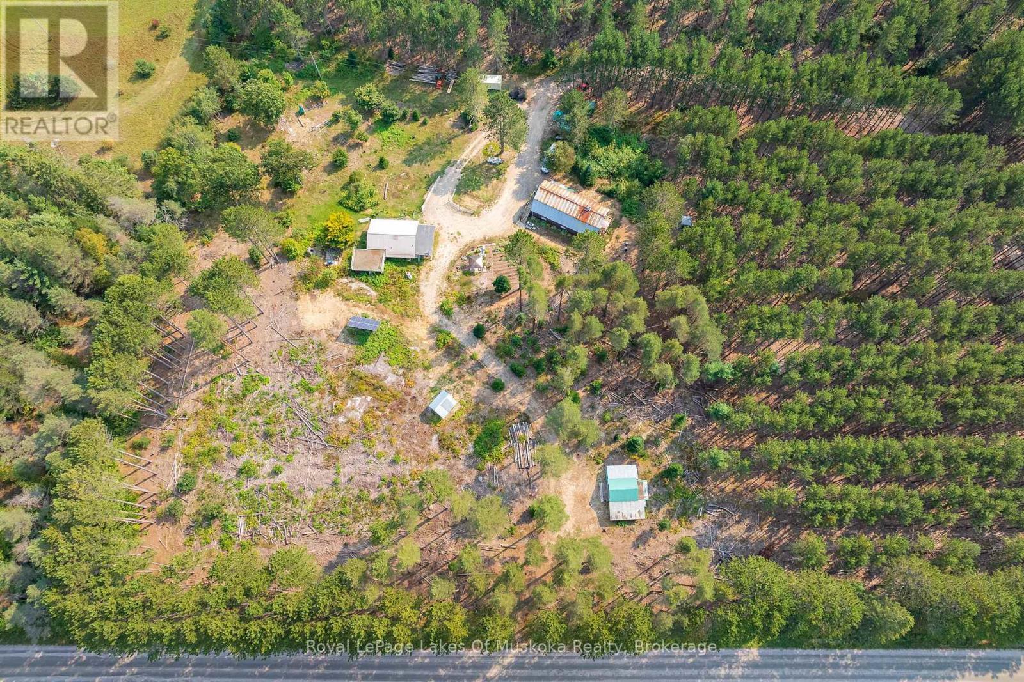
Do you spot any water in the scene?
No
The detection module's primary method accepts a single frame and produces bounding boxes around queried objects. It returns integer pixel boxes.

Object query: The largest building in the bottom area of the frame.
[605,465,647,522]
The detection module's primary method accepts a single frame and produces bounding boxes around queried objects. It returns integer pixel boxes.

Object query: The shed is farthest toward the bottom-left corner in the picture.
[429,391,457,420]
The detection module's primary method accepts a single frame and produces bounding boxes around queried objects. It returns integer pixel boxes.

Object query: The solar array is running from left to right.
[347,316,380,334]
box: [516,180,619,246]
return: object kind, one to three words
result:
barn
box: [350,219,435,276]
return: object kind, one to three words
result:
house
